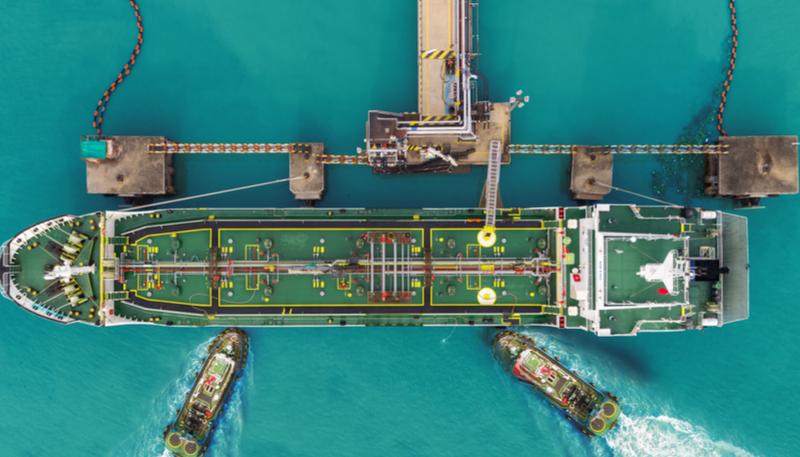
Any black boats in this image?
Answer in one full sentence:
No, the scene contains no black boat.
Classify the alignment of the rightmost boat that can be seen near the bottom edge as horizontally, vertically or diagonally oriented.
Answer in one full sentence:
In this picture, the rightmost boat that can be seen near the bottom edge lies diagonally.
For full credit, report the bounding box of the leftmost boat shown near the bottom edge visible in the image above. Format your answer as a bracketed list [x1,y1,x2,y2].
[158,327,250,457]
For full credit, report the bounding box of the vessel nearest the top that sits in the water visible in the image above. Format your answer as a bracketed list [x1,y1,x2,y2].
[0,205,753,336]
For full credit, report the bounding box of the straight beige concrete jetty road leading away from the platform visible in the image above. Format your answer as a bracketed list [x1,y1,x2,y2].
[418,0,480,118]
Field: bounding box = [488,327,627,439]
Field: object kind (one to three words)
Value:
boat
